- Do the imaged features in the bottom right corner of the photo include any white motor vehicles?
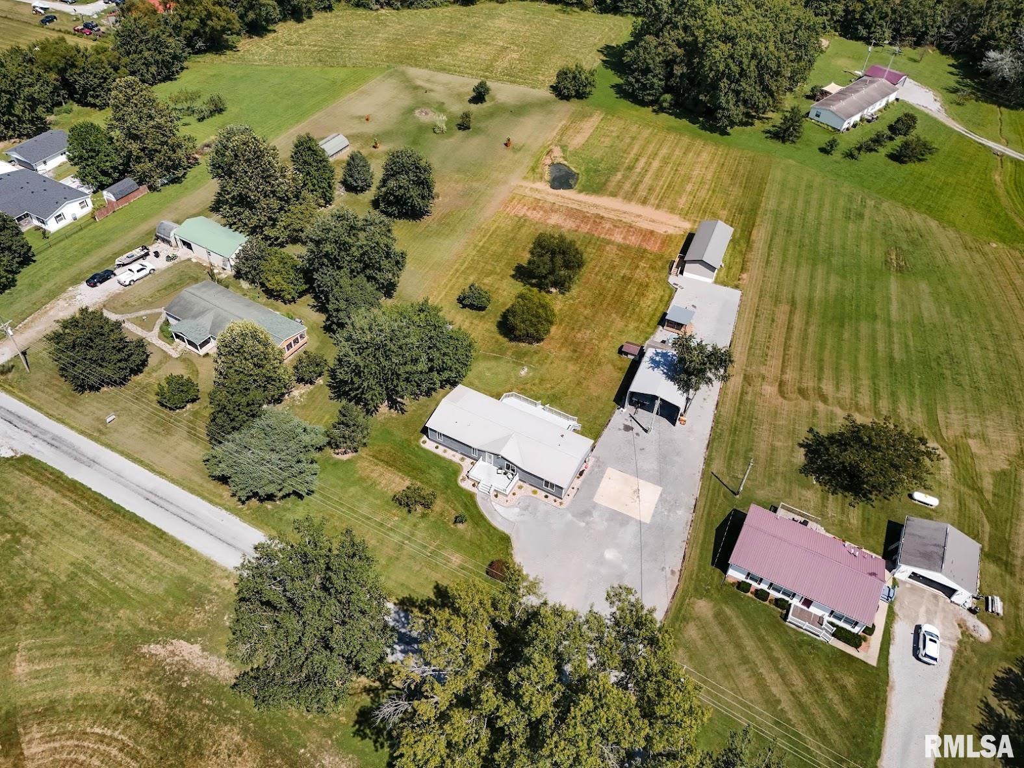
Yes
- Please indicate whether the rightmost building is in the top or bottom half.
bottom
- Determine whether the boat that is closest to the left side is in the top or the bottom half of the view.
top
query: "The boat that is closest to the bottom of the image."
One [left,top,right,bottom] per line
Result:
[113,239,151,261]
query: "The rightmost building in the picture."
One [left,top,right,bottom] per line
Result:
[892,516,981,608]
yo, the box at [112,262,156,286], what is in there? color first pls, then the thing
white truck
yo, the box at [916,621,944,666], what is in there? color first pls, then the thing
white car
